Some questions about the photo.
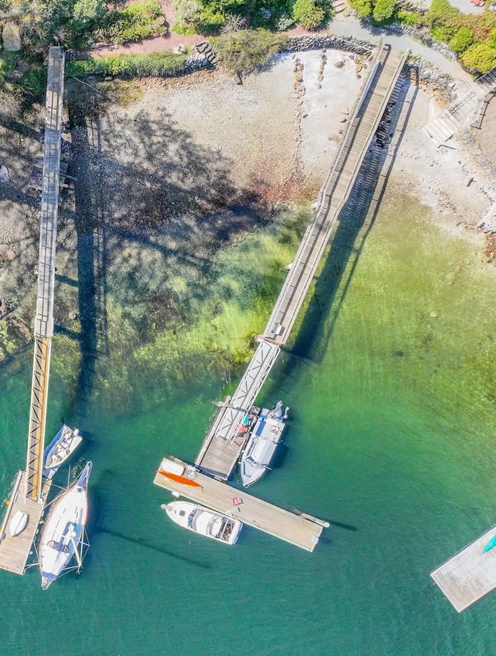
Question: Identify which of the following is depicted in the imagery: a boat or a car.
boat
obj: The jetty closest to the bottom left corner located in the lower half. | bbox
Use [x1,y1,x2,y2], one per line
[0,469,62,578]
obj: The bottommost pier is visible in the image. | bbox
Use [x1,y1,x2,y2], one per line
[429,525,496,614]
